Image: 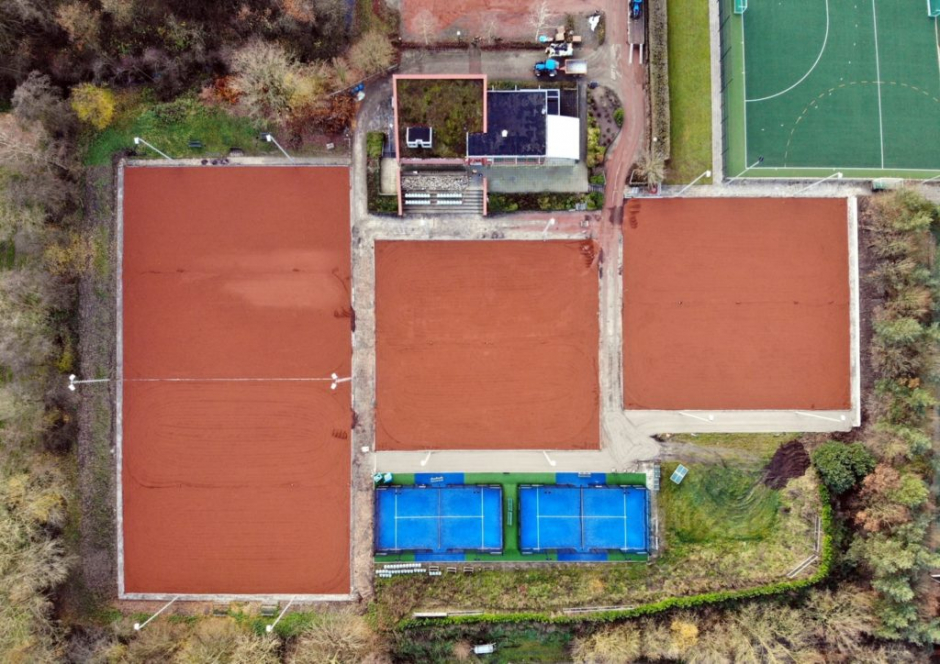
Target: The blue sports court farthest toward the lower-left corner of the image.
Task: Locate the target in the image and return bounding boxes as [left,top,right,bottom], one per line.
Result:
[373,486,503,557]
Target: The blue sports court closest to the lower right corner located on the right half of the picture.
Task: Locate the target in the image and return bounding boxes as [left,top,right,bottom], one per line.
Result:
[521,486,653,557]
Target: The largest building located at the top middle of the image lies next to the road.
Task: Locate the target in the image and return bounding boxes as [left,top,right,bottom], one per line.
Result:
[394,75,578,218]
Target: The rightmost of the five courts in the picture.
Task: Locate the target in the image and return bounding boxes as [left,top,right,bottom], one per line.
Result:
[622,196,861,430]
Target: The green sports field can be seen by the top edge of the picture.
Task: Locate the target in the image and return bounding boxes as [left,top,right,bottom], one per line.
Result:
[722,0,940,179]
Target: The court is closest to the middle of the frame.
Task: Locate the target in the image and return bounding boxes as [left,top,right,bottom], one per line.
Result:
[374,240,601,451]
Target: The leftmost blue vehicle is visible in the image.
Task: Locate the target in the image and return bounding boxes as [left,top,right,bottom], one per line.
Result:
[529,60,555,78]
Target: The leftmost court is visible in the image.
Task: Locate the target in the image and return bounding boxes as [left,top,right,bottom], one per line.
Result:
[116,163,356,602]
